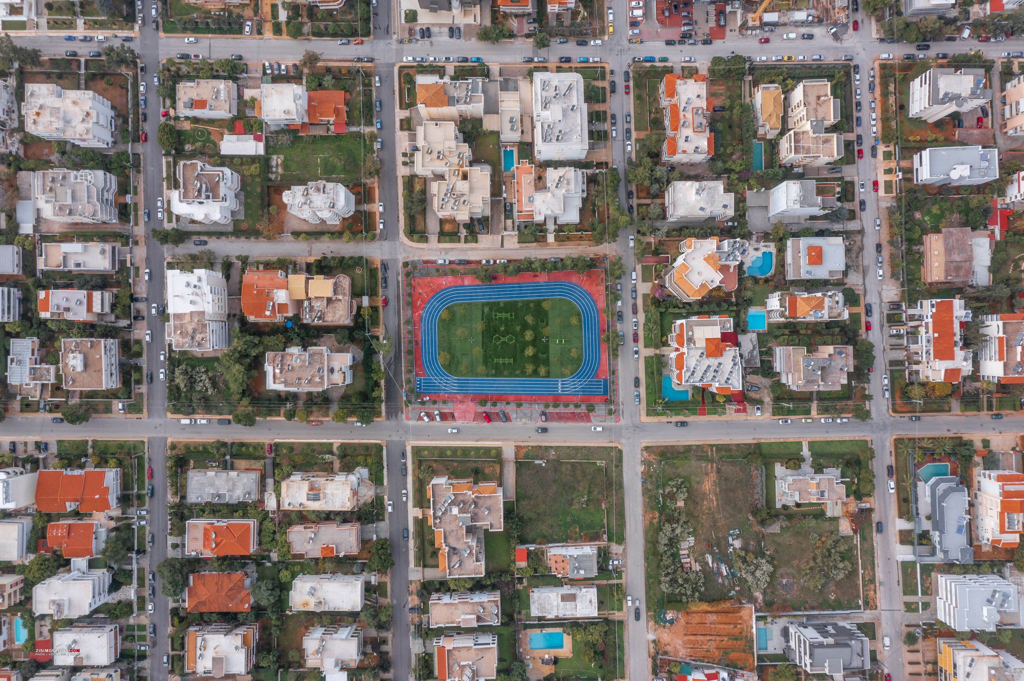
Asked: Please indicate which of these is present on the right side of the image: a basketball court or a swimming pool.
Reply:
swimming pool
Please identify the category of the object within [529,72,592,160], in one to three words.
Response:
building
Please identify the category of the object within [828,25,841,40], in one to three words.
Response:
vehicle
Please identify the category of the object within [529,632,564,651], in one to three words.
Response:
swimming pool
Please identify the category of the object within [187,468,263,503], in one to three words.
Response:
house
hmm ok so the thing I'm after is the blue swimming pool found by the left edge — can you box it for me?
[14,618,28,646]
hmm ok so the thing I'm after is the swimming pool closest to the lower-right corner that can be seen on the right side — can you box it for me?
[917,463,951,475]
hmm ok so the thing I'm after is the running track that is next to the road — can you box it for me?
[411,269,609,403]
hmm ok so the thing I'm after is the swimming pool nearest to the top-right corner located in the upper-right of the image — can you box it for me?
[752,139,764,175]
